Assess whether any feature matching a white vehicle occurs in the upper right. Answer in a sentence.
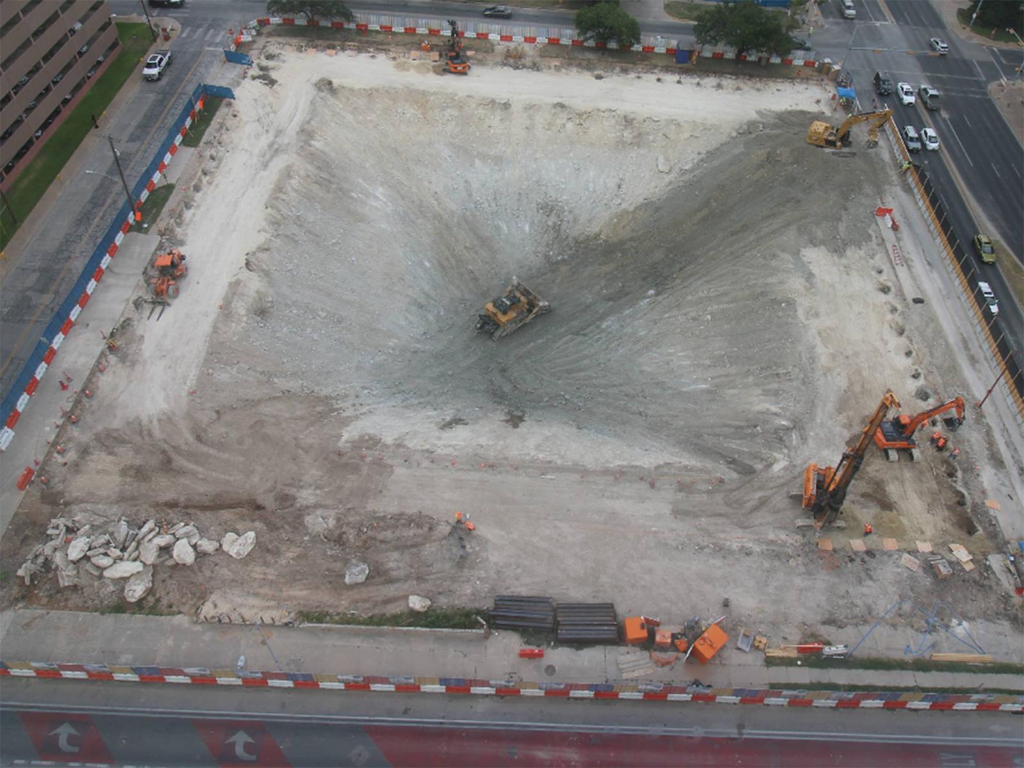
Yes, I can see a white vehicle in the upper right.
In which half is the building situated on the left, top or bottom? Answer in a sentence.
It is in the top half that the building situated on the left appears.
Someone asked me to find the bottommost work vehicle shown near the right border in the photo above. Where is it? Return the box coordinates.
[872,406,973,456]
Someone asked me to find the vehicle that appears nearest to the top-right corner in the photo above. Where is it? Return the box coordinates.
[929,37,951,56]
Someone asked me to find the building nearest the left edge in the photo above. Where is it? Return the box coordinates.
[0,0,131,191]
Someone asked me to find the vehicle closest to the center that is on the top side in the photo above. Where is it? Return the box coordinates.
[476,266,557,332]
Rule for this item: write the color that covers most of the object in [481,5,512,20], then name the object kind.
gray car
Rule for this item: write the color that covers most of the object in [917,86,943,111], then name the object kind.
gray truck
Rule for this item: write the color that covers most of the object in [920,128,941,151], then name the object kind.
white car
